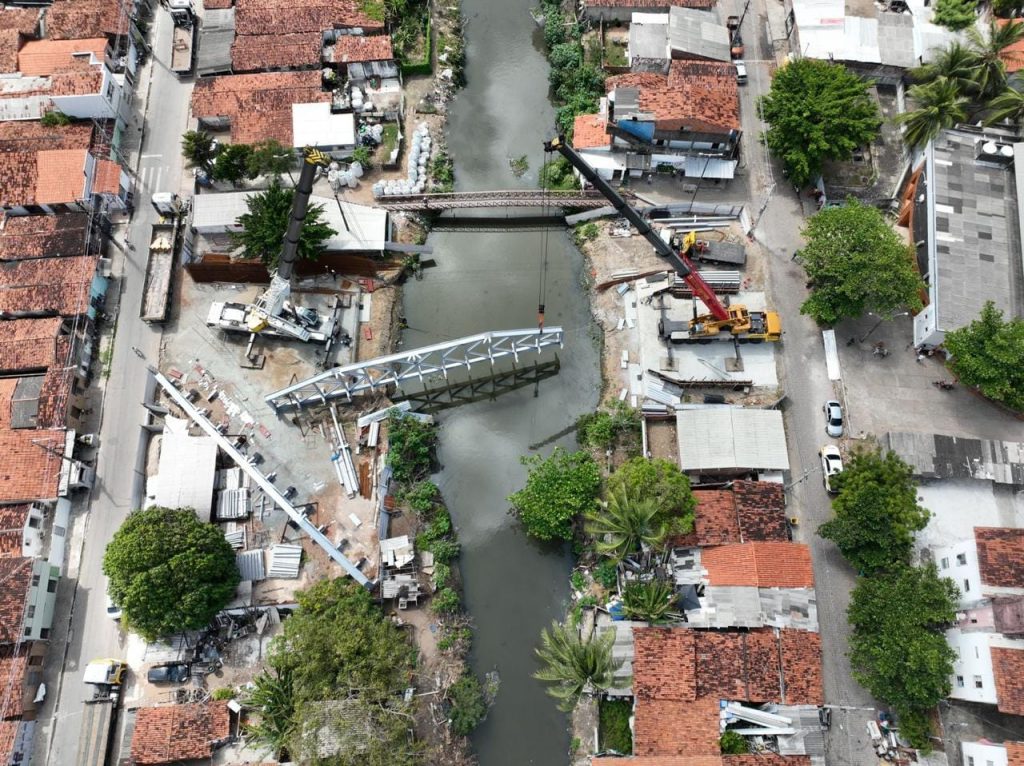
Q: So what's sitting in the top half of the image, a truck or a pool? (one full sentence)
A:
You can see a truck in the top half of the image.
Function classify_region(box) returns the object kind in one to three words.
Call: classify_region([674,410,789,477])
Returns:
building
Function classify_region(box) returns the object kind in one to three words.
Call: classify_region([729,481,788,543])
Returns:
house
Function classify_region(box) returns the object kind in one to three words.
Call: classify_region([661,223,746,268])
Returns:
truck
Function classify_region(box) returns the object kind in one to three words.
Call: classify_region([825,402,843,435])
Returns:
car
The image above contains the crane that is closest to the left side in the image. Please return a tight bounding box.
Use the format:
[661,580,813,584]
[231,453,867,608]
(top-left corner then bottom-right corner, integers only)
[202,132,351,367]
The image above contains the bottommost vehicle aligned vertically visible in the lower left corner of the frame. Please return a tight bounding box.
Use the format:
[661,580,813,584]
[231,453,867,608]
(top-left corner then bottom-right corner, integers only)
[77,661,122,766]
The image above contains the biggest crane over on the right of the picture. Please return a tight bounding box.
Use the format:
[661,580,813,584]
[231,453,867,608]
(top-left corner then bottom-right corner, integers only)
[533,137,785,370]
